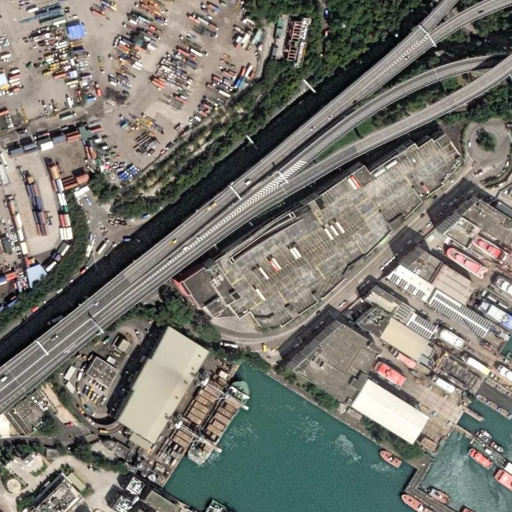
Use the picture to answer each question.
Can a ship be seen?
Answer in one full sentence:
Yes, the frame does contain a ship.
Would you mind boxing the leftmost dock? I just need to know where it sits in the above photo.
[404,462,456,512]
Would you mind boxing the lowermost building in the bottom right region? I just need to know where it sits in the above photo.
[348,378,430,444]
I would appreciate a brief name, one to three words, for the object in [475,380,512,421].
pier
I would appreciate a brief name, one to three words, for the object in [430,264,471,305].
shed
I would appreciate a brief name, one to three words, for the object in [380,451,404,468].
boat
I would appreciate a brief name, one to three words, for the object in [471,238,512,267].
ship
